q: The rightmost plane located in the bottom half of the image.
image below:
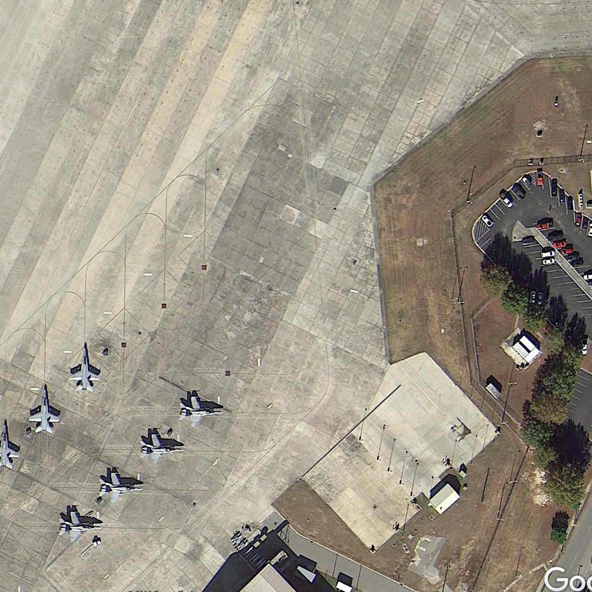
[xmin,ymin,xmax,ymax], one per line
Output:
[179,398,223,428]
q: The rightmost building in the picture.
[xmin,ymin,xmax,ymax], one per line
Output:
[512,336,543,364]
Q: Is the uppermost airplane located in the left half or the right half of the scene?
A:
left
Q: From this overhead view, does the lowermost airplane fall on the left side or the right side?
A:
left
